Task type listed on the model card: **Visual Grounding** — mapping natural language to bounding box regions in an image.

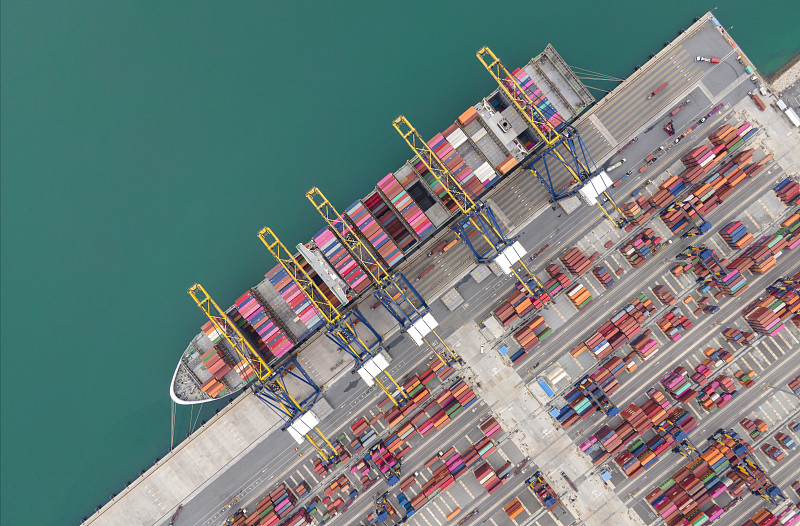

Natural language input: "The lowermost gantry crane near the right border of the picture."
[735,459,792,505]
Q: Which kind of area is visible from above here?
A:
port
